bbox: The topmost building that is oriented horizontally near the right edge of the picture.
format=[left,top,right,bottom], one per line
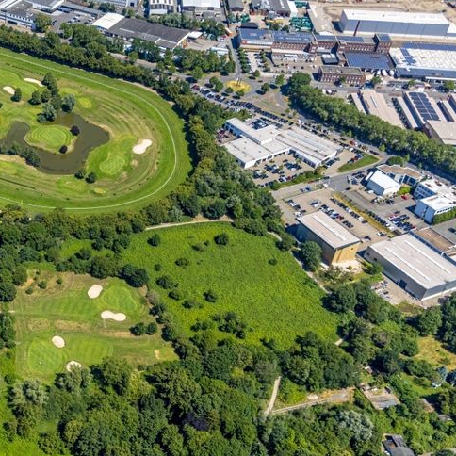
[339,9,450,39]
